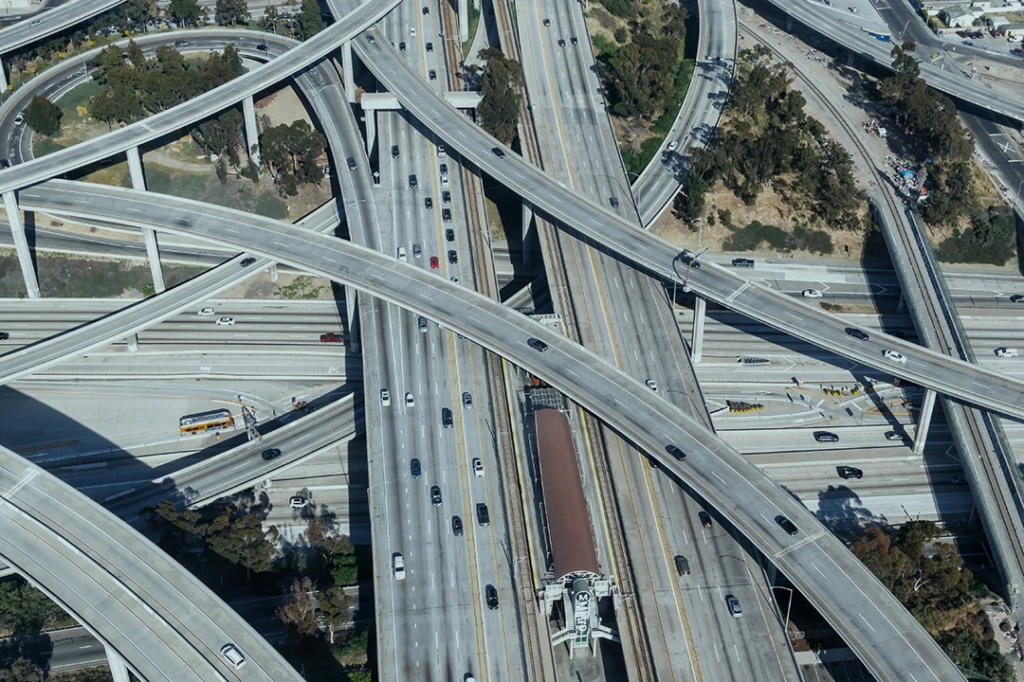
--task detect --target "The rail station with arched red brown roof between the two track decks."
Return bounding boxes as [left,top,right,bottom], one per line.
[512,311,620,659]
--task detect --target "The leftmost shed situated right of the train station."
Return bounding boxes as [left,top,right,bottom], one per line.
[791,640,812,666]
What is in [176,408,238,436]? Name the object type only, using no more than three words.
bus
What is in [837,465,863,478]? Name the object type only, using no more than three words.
vehicle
